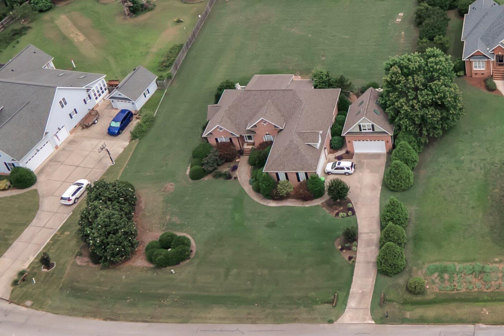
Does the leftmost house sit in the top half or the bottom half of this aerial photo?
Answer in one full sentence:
The leftmost house sits in the top half of the picture.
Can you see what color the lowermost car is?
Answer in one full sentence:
The color of the lowermost car is white.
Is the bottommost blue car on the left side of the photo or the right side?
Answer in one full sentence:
The bottommost blue car appears in the left half of the scene.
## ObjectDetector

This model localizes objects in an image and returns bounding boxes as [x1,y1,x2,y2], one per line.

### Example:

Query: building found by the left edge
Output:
[0,35,115,174]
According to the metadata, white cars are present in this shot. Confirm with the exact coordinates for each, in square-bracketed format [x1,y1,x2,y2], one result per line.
[56,180,94,207]
[323,159,357,176]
